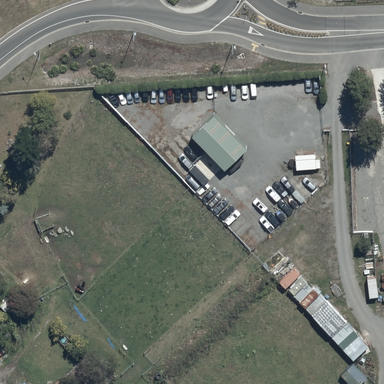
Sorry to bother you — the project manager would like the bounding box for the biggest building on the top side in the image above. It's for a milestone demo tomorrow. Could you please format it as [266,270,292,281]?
[192,111,248,174]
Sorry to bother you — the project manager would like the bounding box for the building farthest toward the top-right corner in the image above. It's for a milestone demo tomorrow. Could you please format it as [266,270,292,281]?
[294,149,320,170]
